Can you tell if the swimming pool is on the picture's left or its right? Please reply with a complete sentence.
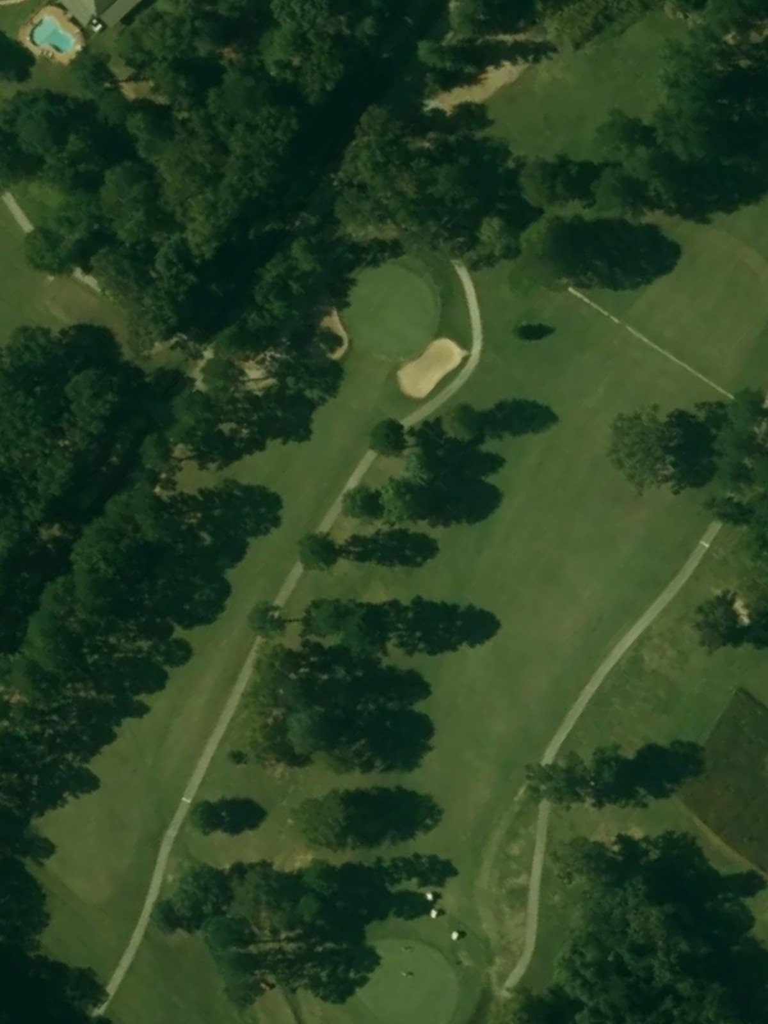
The swimming pool appears in the left half of the scene.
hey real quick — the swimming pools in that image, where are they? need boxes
[19,5,85,65]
